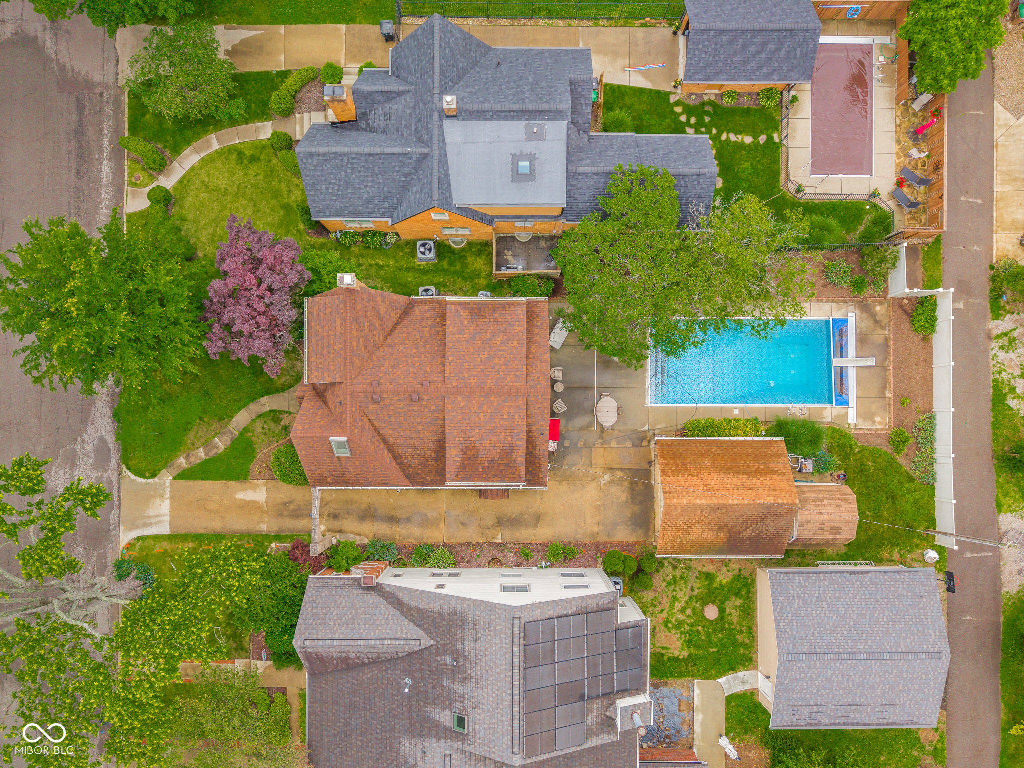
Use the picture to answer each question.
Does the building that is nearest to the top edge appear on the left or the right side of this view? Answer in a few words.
right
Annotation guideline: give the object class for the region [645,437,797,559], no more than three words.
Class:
building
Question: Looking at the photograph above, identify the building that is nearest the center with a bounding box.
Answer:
[294,273,553,499]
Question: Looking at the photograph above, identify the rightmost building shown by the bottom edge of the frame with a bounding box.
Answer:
[755,563,957,731]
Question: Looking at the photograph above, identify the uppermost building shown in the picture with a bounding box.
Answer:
[678,0,825,105]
